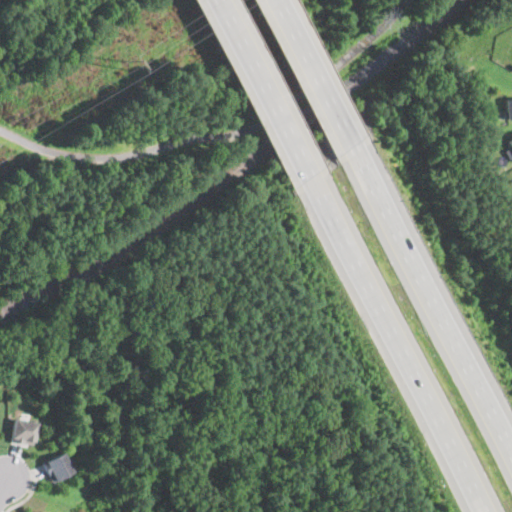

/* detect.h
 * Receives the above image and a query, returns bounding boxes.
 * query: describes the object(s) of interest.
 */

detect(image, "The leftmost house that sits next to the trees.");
[12,412,40,448]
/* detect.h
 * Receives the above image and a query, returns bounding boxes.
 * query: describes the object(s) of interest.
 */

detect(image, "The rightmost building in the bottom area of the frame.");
[42,456,77,484]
